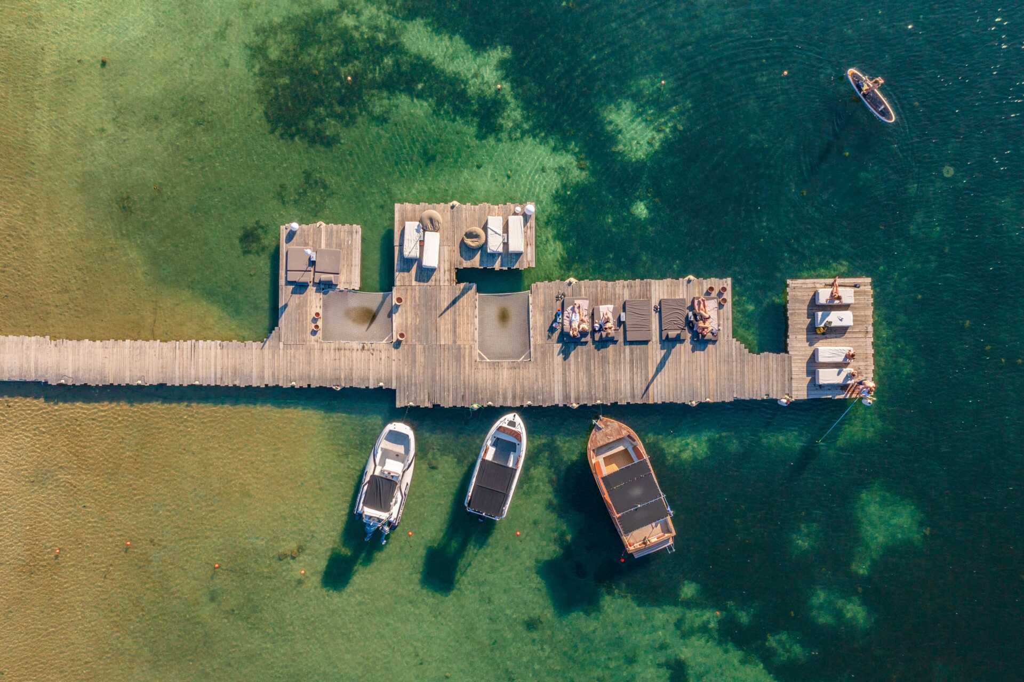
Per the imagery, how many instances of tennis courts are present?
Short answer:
0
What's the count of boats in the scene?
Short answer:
three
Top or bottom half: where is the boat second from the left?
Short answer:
bottom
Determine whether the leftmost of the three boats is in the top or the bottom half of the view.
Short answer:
bottom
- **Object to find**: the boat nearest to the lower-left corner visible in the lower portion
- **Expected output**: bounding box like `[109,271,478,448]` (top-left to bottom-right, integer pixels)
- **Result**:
[354,422,415,541]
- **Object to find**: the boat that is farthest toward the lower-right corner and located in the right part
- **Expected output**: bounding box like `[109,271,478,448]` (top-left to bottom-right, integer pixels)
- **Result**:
[588,415,676,554]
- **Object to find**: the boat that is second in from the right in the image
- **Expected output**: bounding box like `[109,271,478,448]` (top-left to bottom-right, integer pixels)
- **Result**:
[465,412,526,521]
